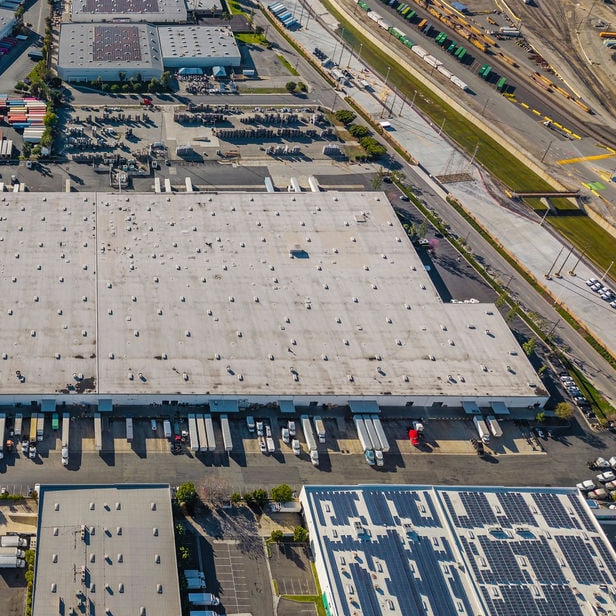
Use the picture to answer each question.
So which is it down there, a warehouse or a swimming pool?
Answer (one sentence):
It is a warehouse that can be seen here.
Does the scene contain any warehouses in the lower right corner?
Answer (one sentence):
Yes, a warehouse appears in the lower right corner.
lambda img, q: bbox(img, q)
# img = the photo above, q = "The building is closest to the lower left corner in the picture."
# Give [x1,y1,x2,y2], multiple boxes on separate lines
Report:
[31,483,182,616]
